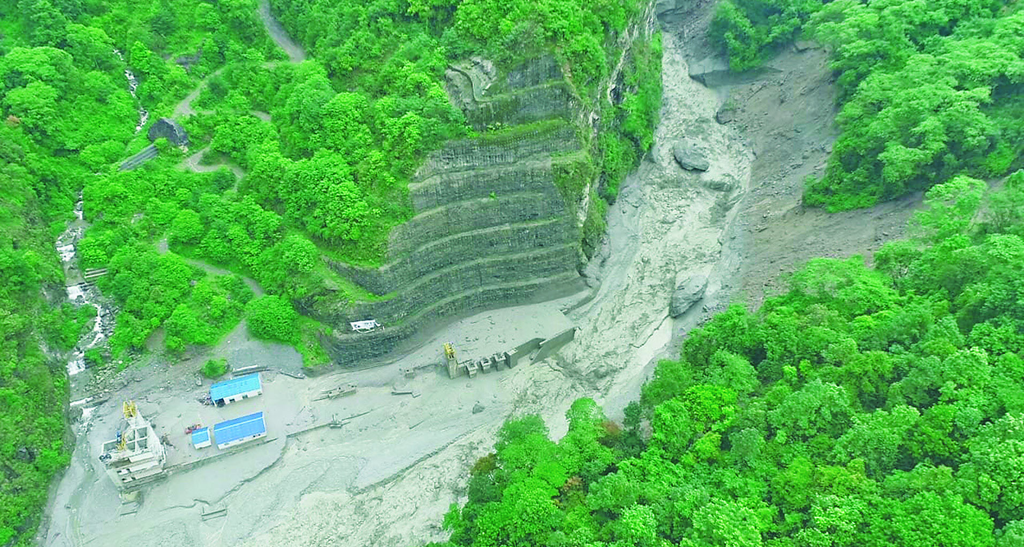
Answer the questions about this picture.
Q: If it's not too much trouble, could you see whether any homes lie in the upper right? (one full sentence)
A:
No, the scene shows no home in the upper right.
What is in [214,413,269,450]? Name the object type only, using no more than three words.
house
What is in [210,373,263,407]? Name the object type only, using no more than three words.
house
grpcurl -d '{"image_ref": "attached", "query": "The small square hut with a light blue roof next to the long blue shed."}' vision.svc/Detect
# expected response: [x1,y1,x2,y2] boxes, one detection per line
[191,426,212,449]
